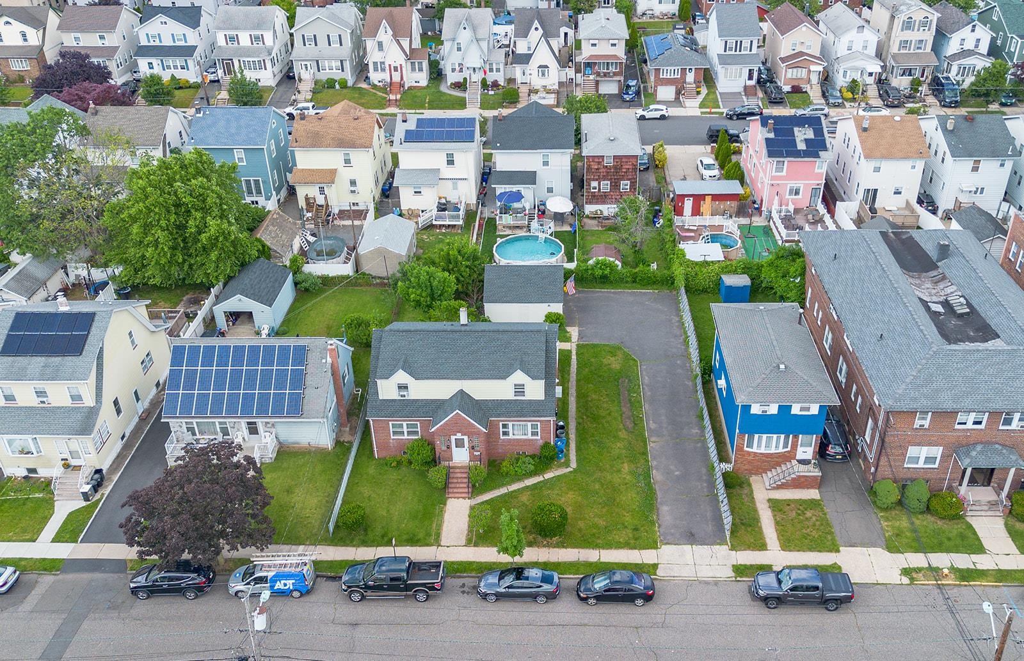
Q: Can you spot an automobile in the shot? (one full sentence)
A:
Yes, an automobile appears in the view.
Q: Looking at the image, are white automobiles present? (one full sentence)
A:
Yes, looking at the shot, I can spot a white automobile.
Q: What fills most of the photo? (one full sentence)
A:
The scene is dominated by buildings.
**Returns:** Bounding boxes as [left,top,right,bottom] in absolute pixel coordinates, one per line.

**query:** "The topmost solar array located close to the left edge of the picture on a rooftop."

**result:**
[1,306,103,369]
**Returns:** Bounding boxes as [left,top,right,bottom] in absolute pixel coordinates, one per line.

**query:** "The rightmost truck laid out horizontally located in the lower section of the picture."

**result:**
[757,563,862,608]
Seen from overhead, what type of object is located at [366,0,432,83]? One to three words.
house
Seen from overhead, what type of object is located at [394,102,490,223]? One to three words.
house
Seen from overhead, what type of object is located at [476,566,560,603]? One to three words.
car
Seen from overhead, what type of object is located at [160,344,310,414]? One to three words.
solar array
